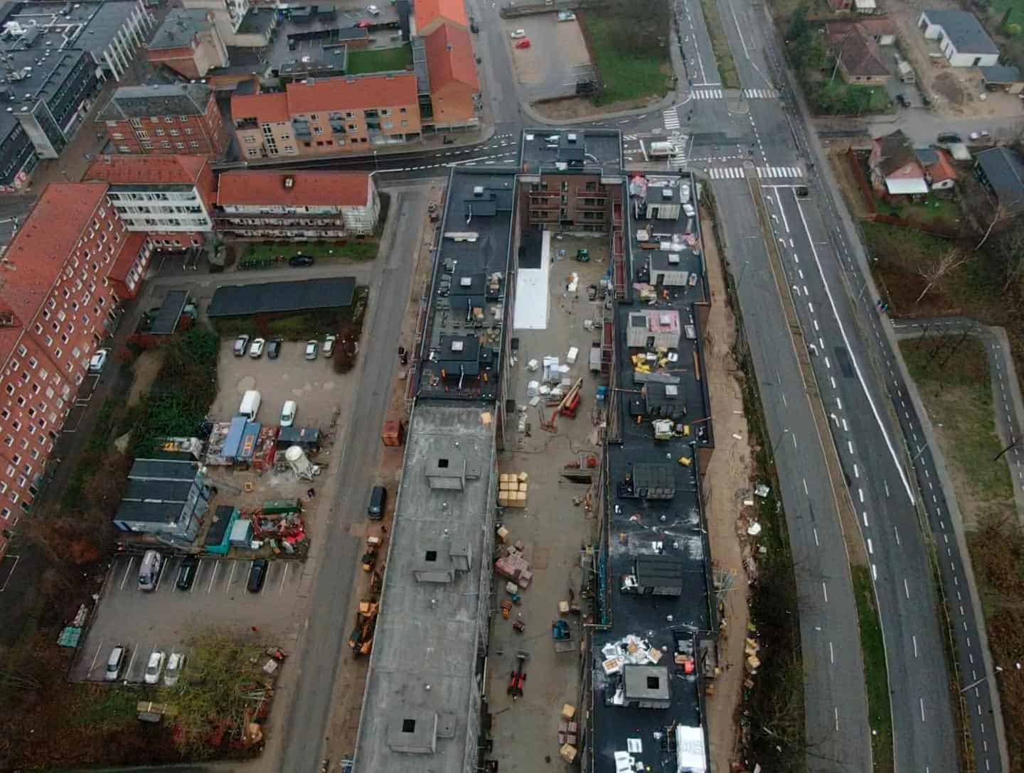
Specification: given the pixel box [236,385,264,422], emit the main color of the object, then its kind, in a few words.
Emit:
white van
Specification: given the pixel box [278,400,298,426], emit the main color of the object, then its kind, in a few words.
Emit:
white car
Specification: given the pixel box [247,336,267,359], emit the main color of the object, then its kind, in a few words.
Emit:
white car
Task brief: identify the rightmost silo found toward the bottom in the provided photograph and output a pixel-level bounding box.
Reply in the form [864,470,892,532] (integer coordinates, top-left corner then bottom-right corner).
[286,451,320,487]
